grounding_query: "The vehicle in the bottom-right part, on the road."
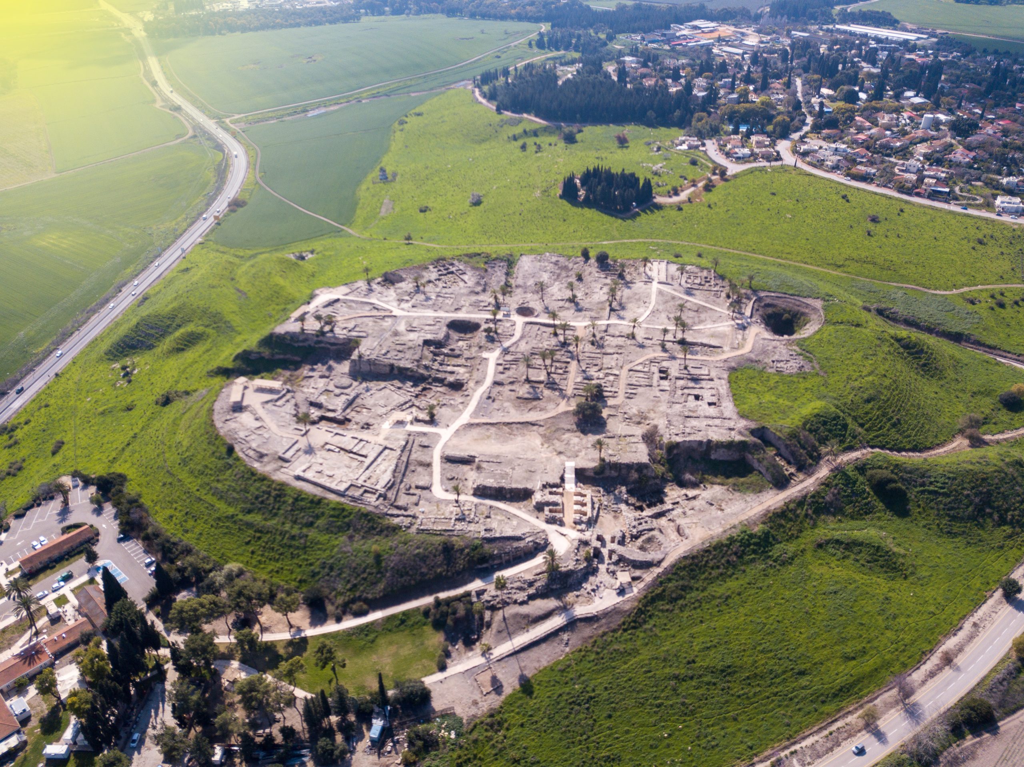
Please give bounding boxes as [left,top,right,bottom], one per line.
[851,741,868,755]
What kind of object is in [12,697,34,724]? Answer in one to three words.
building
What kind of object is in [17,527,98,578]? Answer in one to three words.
shed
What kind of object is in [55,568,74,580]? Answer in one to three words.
vehicle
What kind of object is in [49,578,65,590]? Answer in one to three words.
vehicle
